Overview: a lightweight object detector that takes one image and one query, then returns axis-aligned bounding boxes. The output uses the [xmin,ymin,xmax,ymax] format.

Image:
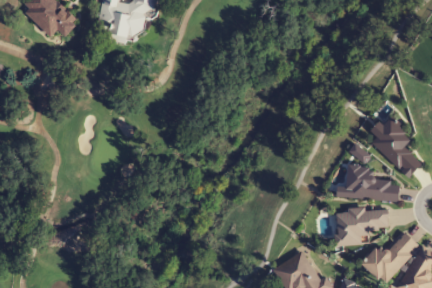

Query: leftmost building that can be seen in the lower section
[274,249,334,288]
